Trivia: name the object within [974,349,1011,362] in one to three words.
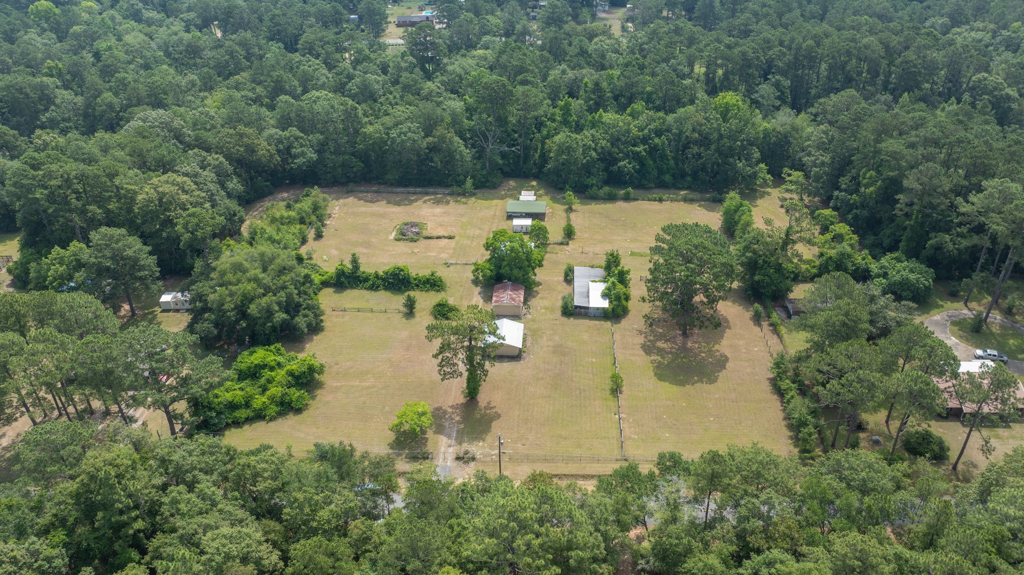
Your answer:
vehicle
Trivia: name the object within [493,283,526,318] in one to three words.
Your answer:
shed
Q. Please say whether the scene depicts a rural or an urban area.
rural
